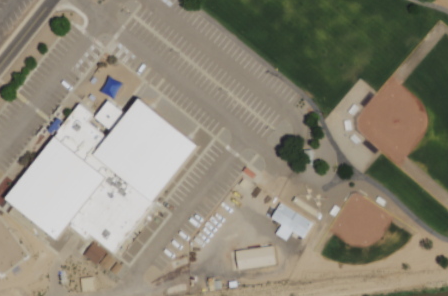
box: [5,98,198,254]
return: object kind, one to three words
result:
building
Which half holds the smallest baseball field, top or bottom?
bottom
